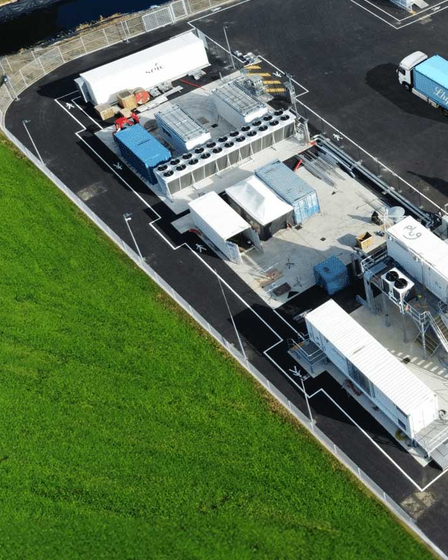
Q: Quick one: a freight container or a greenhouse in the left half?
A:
freight container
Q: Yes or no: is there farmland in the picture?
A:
Yes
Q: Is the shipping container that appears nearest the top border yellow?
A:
No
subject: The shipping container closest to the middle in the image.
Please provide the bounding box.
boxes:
[187,192,266,270]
